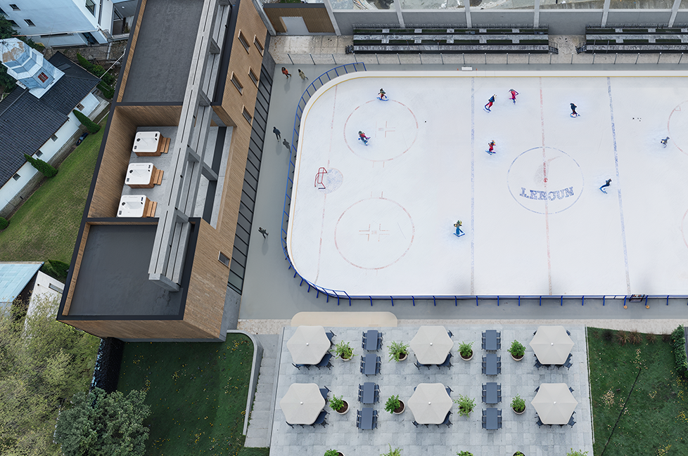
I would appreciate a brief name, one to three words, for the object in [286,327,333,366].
umbrella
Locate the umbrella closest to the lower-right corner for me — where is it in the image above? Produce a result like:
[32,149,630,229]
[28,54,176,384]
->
[530,383,578,426]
